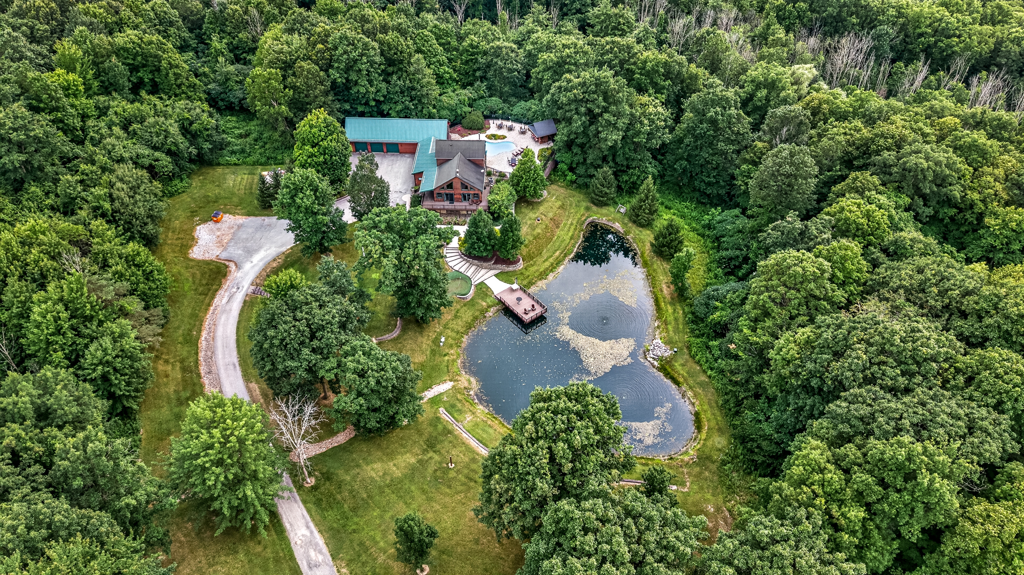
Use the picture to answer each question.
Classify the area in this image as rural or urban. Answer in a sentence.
The land in this view is best described as rural.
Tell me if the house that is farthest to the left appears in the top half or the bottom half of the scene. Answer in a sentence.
The house that is farthest to the left sits in the top half of the picture.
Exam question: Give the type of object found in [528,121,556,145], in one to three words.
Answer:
shed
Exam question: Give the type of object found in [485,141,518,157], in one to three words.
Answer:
swimming pool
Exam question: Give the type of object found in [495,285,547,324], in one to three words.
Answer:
pier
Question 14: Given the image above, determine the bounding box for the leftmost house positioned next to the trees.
[343,114,490,220]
